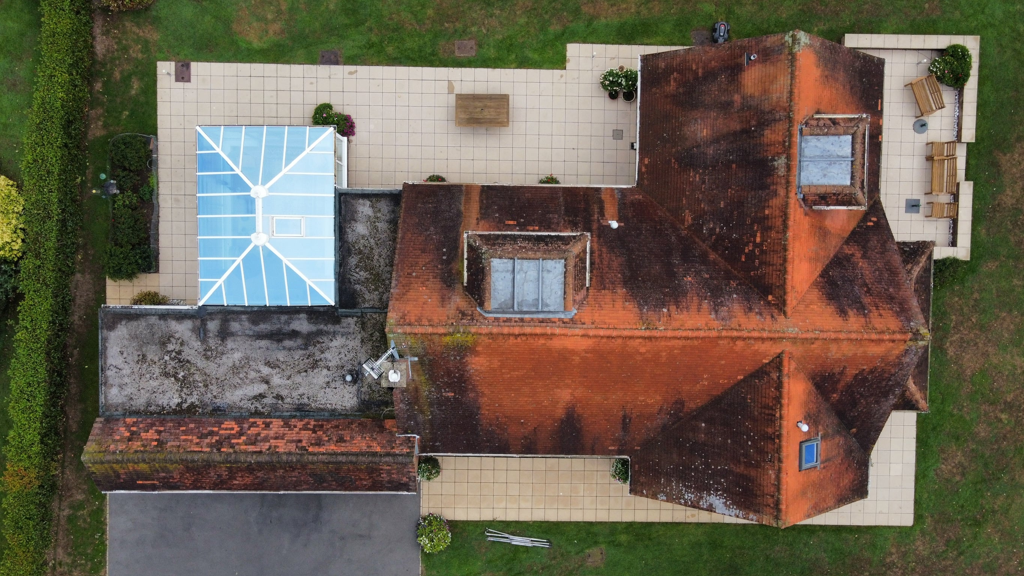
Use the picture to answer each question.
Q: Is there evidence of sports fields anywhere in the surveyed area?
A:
No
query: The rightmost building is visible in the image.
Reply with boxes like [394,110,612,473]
[385,30,937,529]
